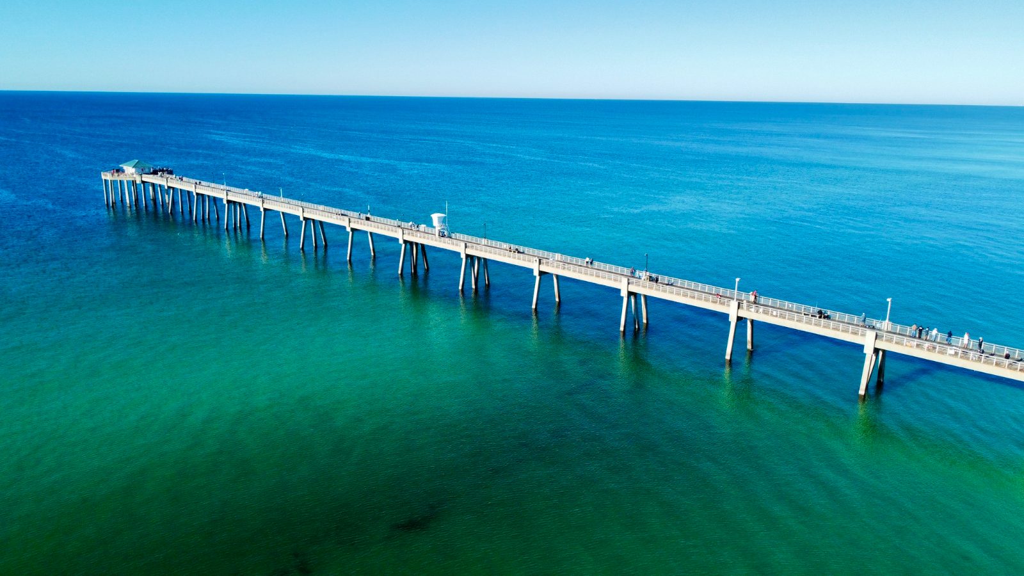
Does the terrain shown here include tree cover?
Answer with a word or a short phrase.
No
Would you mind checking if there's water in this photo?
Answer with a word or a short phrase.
Yes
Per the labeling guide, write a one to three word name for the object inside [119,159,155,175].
shed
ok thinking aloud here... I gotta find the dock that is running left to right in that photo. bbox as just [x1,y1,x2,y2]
[100,168,1024,394]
